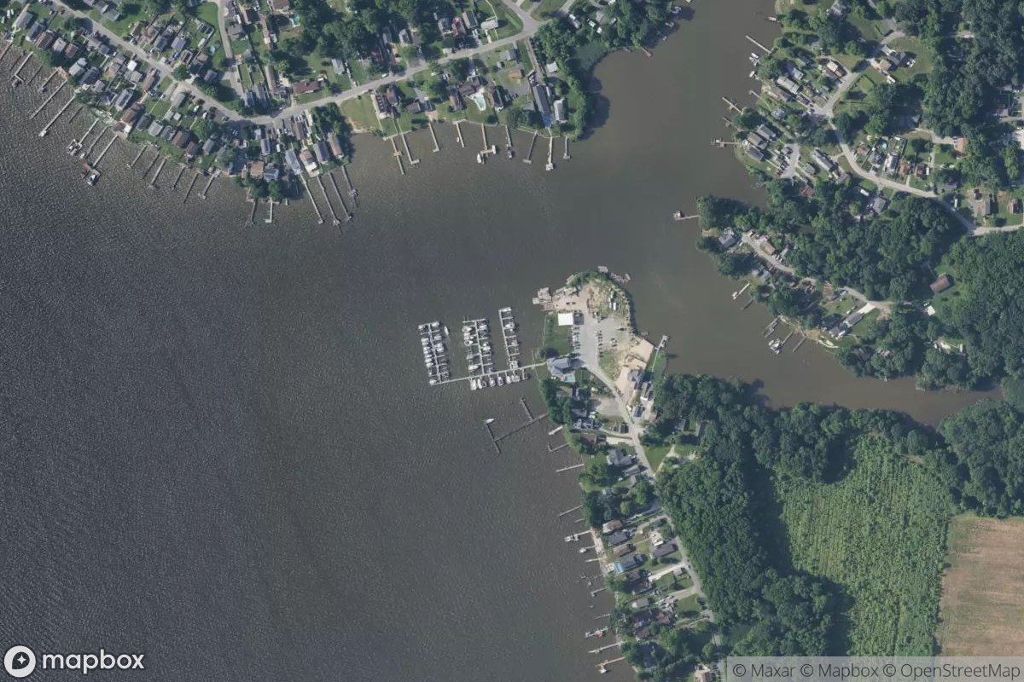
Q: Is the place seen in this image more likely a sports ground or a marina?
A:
marina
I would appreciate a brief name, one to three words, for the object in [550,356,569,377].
building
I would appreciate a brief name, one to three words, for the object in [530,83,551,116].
house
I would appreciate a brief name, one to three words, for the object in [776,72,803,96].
house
